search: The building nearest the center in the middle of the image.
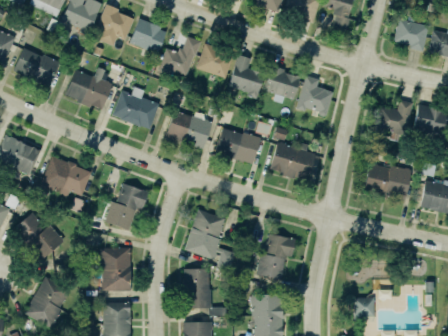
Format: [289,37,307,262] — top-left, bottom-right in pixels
[218,125,262,164]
